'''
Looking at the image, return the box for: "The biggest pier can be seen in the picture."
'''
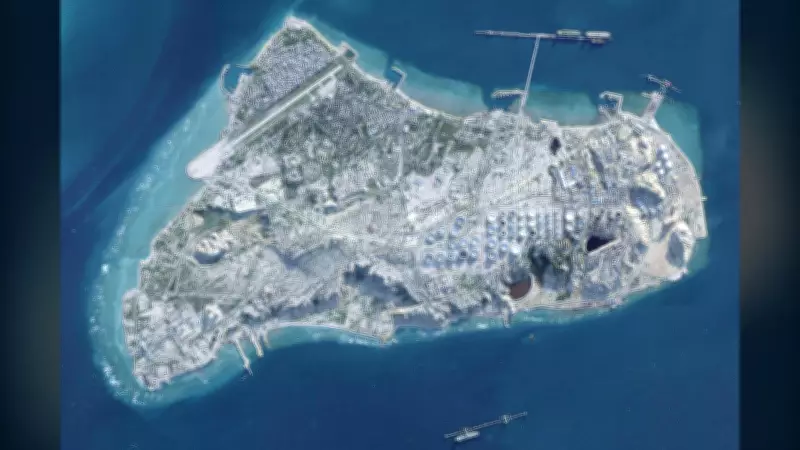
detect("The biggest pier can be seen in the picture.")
[474,30,611,115]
